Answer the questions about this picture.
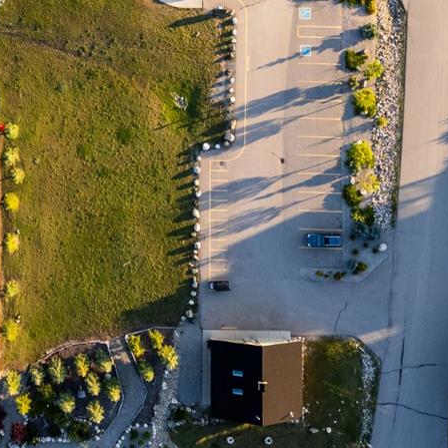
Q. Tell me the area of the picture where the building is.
bottom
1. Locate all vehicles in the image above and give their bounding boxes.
[208,280,229,293]
[303,232,344,250]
